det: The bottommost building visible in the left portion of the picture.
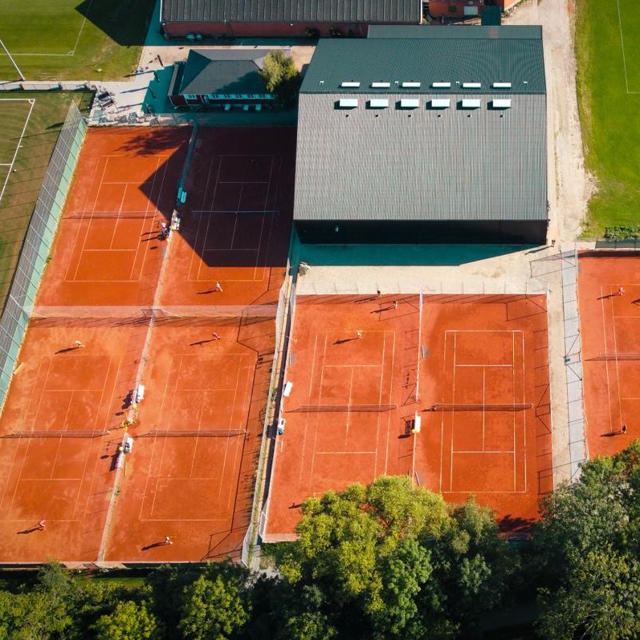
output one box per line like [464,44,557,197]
[162,50,282,106]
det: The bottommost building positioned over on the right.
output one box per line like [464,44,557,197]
[293,25,548,244]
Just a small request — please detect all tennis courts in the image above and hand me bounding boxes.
[412,295,553,544]
[579,250,640,474]
[102,319,279,563]
[150,128,298,319]
[0,318,150,563]
[263,294,422,544]
[32,128,190,319]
